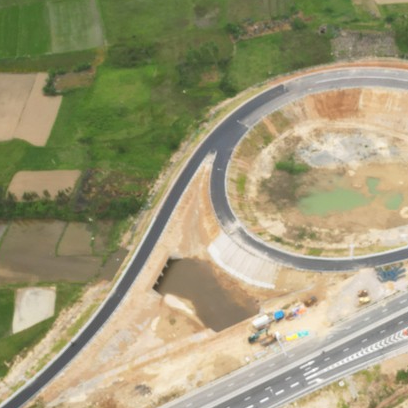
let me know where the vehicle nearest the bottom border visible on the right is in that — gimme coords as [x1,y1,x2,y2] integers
[246,327,270,345]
